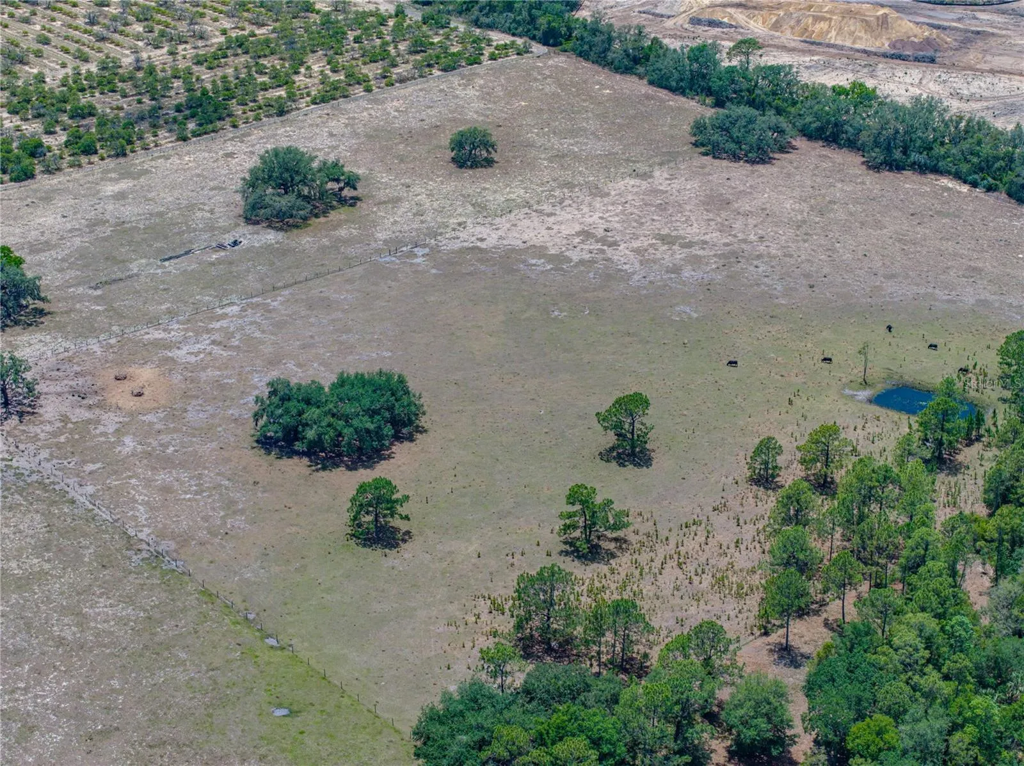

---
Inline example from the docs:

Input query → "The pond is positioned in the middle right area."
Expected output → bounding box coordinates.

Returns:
[873,387,985,425]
